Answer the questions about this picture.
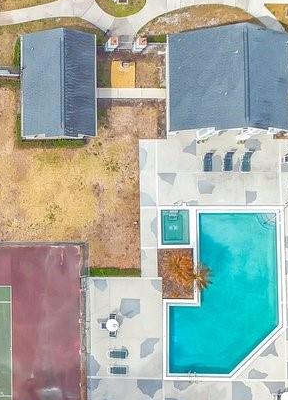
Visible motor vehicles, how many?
none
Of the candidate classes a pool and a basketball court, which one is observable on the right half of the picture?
pool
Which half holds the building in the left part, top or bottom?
top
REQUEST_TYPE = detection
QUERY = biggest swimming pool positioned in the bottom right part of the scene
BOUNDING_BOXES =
[163,204,287,384]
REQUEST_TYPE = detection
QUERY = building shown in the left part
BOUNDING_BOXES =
[20,28,98,138]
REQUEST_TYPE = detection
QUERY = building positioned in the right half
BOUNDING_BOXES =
[165,23,288,132]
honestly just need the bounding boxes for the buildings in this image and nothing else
[20,28,98,138]
[165,23,288,132]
